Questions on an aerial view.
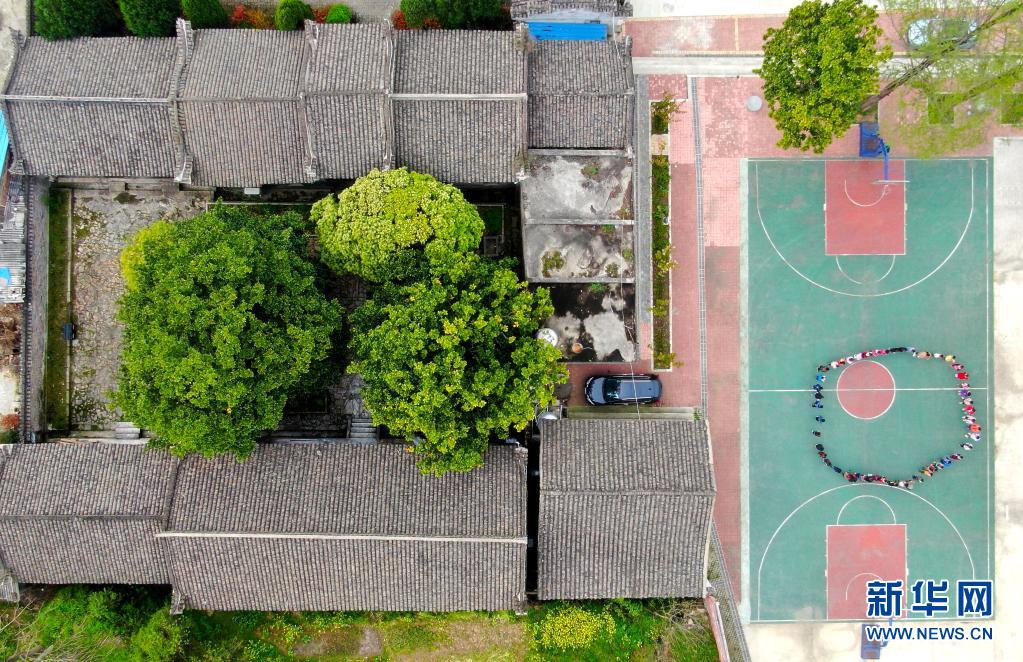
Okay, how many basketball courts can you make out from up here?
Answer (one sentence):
My tally gives 1 basketball court in this photo.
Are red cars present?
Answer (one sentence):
No, the scene contains no red car.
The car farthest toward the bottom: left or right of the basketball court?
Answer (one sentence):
Relative to the basketball court, the car farthest toward the bottom is on the left.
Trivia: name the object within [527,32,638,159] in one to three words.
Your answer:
house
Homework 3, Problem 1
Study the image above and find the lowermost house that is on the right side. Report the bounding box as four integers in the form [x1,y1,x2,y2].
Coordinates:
[537,417,719,601]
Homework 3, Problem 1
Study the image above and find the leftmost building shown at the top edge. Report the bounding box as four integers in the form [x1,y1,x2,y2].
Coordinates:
[0,27,182,188]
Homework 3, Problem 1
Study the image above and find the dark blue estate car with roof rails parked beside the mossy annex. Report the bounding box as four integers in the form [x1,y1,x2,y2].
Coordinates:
[585,372,661,408]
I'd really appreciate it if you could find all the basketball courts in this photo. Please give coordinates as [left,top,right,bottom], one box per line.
[739,158,993,622]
